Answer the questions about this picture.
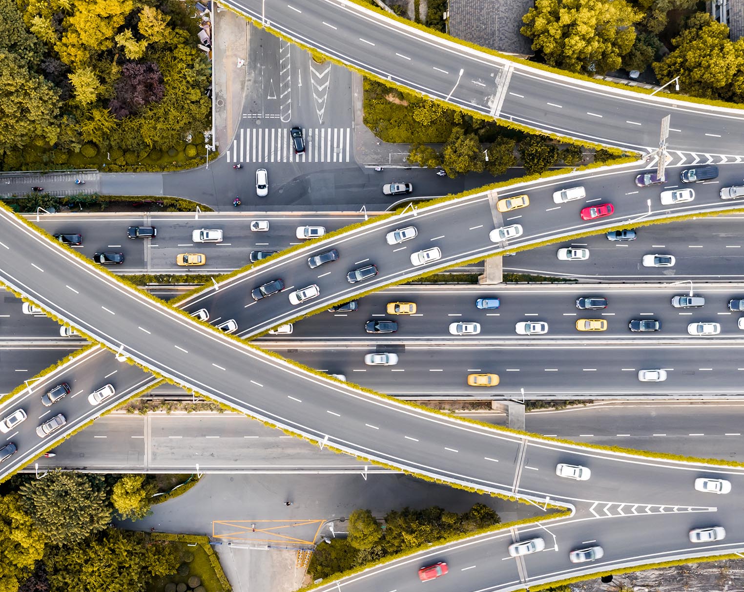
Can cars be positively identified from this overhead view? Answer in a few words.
Yes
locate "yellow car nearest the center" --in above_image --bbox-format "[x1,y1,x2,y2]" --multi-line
[384,301,417,314]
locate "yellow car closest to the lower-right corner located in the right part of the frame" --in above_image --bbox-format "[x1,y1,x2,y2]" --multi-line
[574,317,608,332]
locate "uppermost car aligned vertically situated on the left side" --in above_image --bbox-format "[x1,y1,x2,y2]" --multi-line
[289,126,306,156]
